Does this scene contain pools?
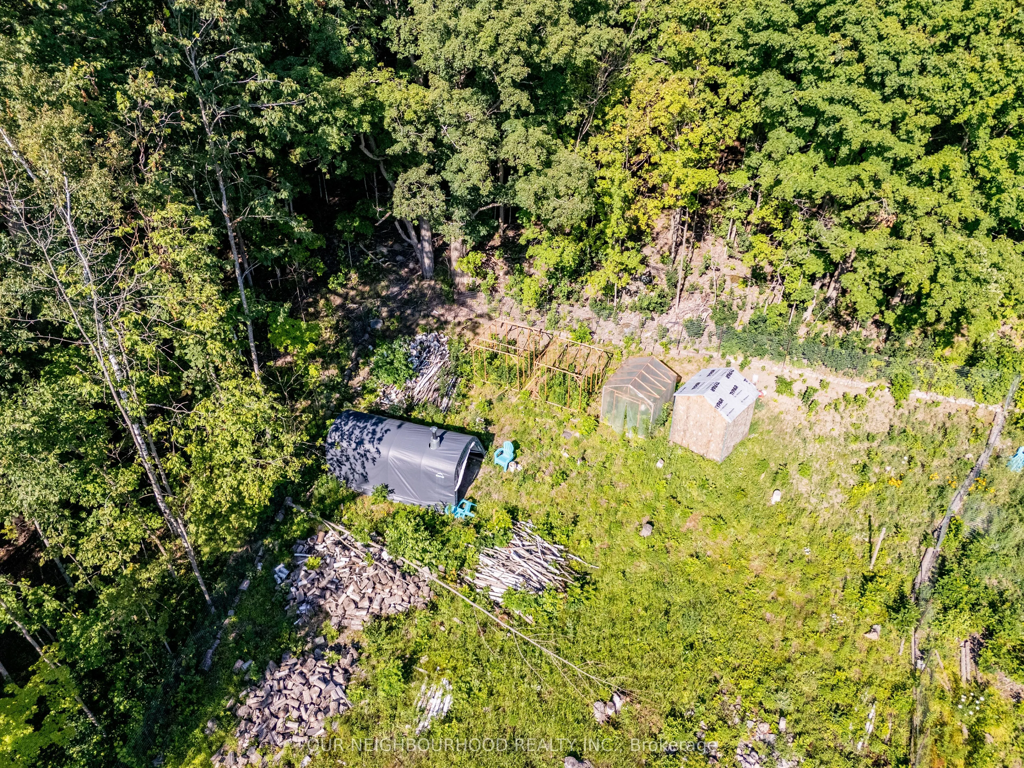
No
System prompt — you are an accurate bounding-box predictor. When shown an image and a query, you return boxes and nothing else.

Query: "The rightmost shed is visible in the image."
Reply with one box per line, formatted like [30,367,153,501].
[668,368,760,465]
